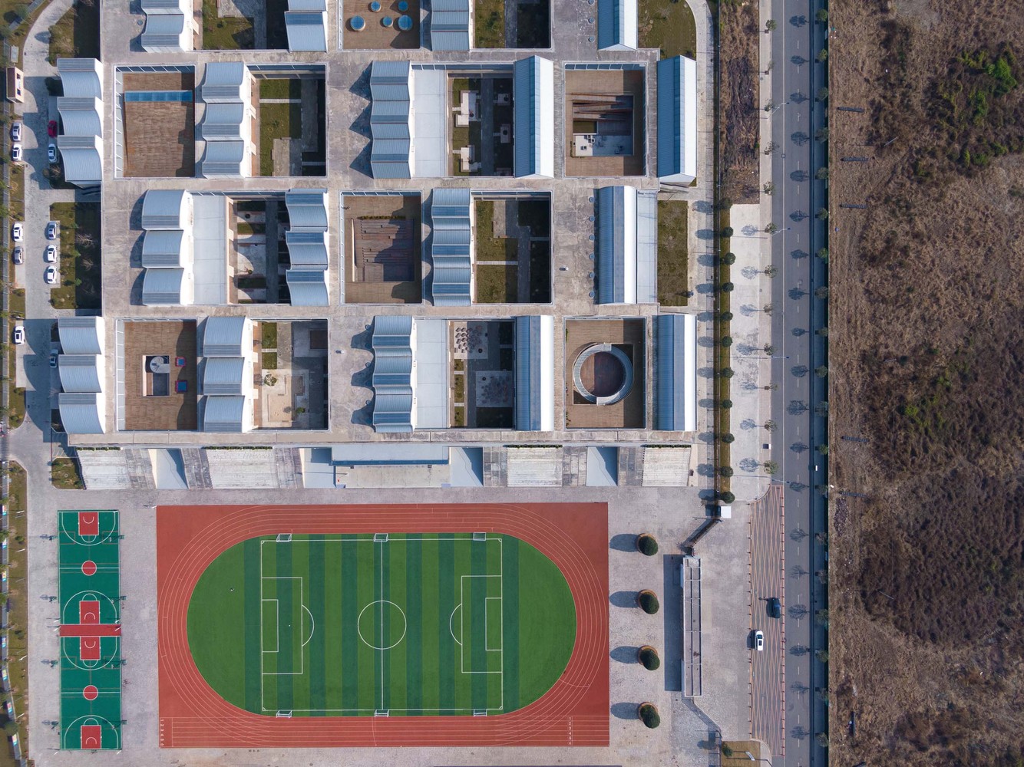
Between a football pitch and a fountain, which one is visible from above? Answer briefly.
football pitch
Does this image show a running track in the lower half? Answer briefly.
Yes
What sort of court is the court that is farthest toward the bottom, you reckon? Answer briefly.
basketball court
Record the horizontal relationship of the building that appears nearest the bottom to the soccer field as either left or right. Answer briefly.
right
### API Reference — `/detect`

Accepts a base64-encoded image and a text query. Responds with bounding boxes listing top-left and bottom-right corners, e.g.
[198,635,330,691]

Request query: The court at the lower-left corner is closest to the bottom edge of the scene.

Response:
[58,636,122,750]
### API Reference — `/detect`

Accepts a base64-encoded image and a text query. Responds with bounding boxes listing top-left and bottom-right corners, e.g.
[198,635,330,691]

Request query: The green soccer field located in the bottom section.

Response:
[187,533,576,717]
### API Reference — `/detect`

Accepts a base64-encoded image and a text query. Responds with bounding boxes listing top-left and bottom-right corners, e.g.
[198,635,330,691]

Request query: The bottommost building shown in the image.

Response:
[681,557,701,700]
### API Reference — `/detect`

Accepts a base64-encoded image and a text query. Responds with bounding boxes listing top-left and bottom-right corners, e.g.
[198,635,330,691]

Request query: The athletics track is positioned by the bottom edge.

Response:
[156,503,609,748]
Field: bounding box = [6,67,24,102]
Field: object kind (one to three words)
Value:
shed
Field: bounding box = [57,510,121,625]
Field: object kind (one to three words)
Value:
basketball court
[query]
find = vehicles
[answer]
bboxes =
[48,220,58,239]
[12,143,23,162]
[14,326,25,345]
[754,631,764,651]
[48,244,58,263]
[49,349,59,368]
[48,120,58,139]
[13,246,24,264]
[47,266,57,284]
[48,143,58,162]
[771,598,780,618]
[11,123,22,141]
[13,222,23,241]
